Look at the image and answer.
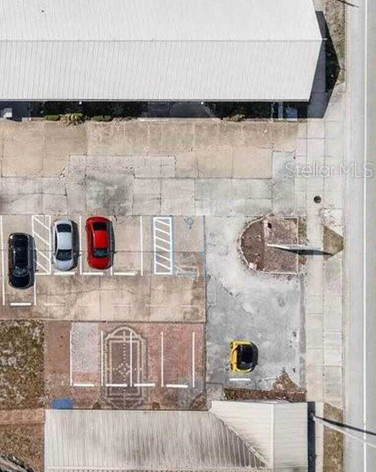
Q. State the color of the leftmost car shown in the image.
black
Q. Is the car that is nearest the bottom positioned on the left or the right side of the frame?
right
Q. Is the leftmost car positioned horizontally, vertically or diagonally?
vertically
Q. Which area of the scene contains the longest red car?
left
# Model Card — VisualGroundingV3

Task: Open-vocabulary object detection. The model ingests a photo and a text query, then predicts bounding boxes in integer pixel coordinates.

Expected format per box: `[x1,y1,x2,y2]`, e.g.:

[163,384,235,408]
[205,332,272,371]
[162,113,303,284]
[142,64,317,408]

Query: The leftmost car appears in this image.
[10,235,38,289]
